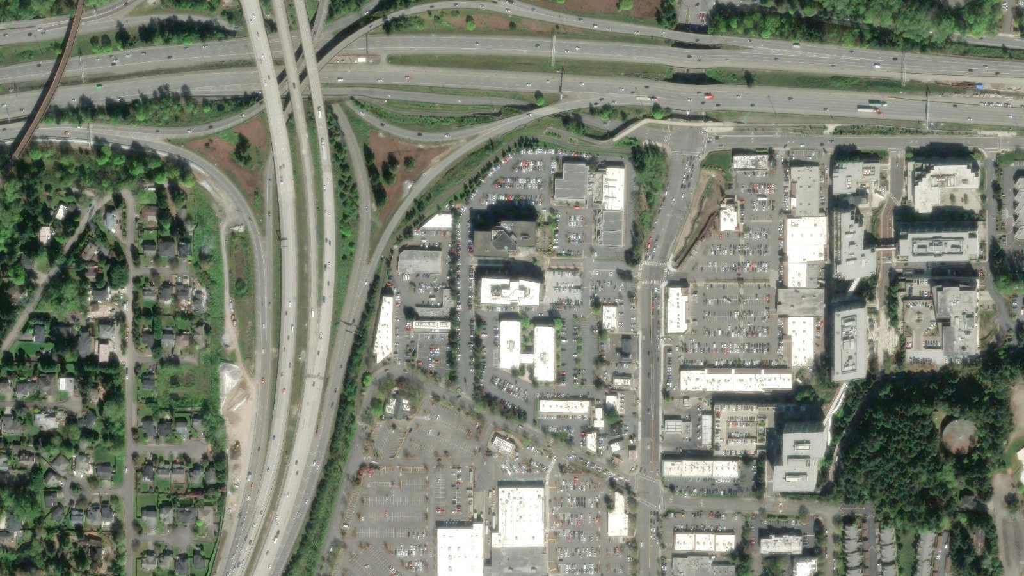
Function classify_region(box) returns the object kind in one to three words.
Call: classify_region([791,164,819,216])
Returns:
building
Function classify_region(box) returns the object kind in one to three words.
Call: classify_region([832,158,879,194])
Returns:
building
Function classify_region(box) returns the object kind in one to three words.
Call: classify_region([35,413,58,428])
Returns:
house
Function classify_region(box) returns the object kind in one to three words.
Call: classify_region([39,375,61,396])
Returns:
house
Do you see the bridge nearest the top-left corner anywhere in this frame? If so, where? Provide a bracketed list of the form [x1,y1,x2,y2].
[13,0,84,157]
